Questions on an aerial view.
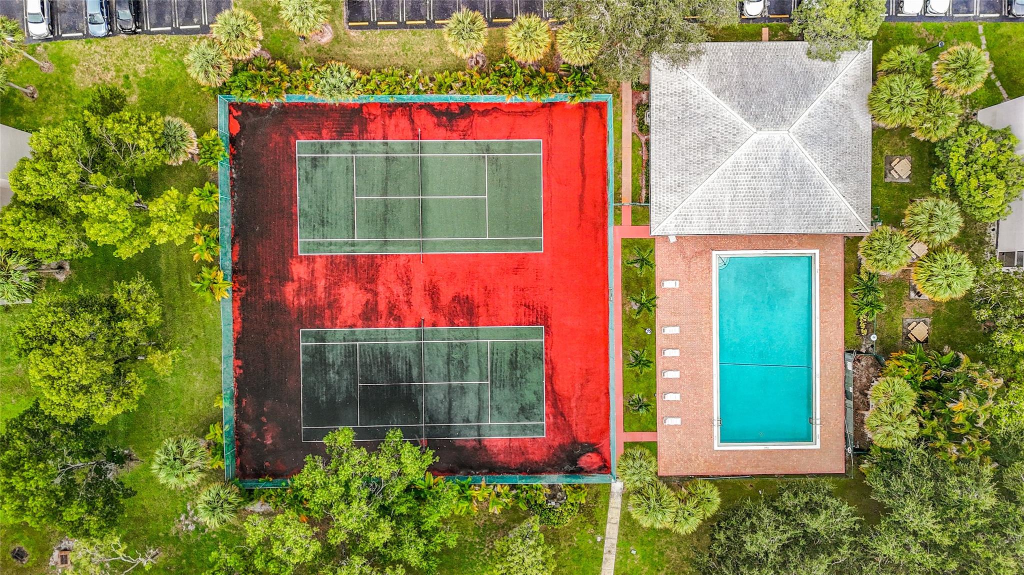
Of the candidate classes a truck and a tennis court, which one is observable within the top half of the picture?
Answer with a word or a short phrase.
tennis court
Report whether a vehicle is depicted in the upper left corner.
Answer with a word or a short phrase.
Yes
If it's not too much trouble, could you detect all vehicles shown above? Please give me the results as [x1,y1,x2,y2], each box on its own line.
[23,0,52,38]
[113,0,140,34]
[900,0,923,14]
[1011,0,1024,17]
[742,0,764,17]
[84,0,112,37]
[927,0,950,14]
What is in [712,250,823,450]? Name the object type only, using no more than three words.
swimming pool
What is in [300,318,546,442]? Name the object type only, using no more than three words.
tennis court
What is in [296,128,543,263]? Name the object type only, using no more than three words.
tennis court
